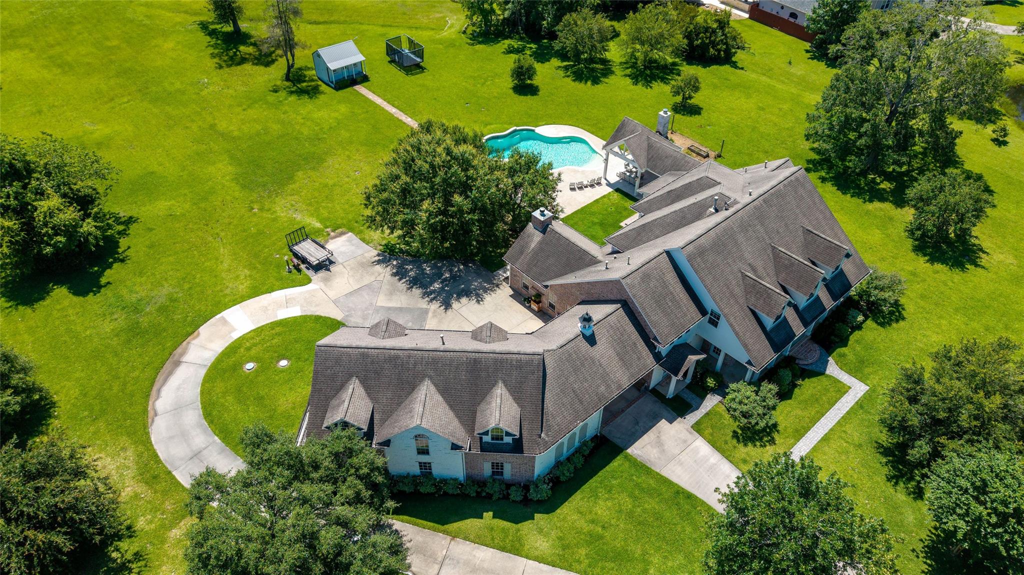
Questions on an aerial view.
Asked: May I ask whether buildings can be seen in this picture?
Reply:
Yes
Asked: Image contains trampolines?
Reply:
Yes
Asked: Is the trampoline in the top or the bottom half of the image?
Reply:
top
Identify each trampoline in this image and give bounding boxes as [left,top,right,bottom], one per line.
[386,34,426,73]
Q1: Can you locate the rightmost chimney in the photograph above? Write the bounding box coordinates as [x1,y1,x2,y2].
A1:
[656,109,673,137]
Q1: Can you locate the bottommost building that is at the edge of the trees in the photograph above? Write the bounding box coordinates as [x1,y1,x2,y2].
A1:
[293,159,872,482]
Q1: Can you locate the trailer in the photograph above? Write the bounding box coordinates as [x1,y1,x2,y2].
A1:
[286,225,332,267]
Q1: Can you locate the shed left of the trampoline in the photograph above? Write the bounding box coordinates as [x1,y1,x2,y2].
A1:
[311,37,363,88]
